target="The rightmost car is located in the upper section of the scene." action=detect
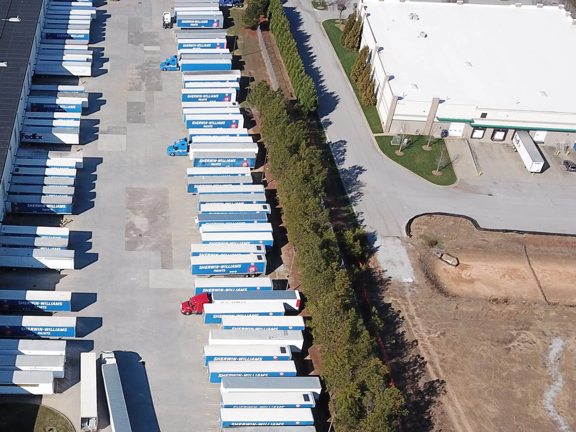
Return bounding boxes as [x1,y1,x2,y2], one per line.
[561,157,576,171]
